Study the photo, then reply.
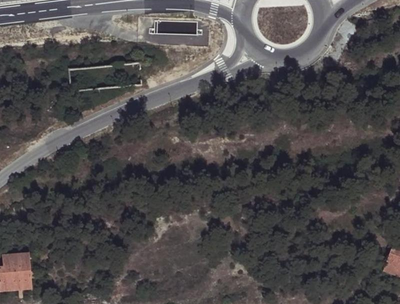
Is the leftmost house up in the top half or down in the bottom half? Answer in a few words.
bottom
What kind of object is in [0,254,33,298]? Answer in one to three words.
house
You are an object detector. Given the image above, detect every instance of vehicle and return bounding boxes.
[264,46,275,54]
[334,8,344,18]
